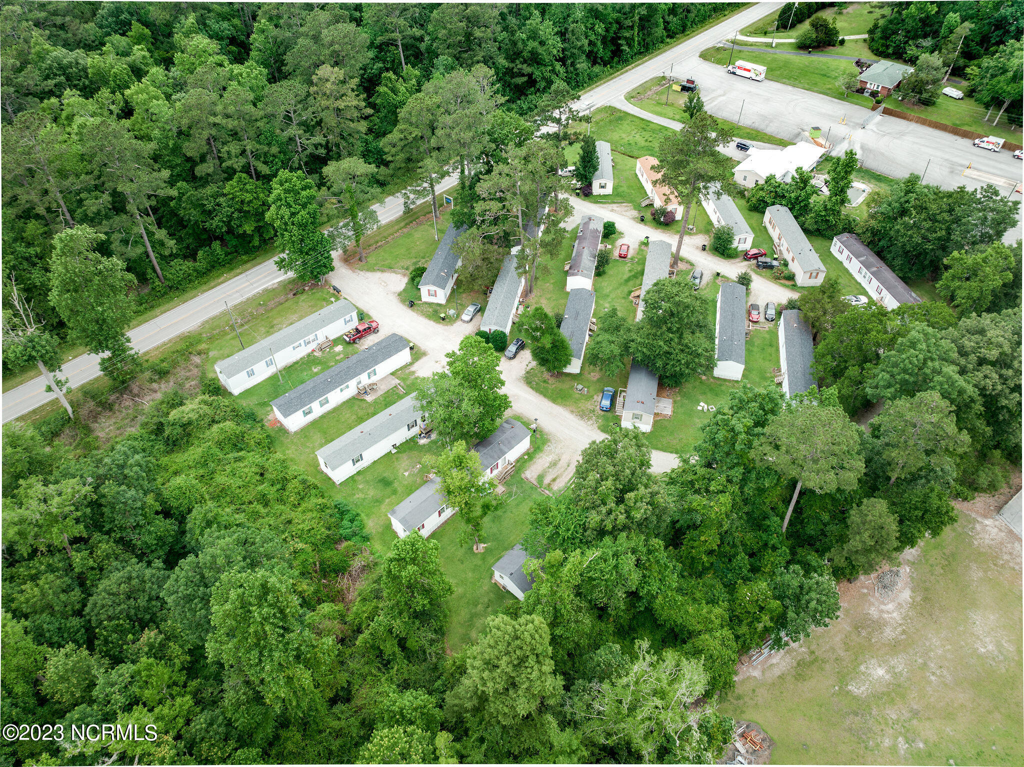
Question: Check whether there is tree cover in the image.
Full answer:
Yes, some tree cover is visible.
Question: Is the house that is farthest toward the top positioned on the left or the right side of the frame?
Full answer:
The house that is farthest toward the top is on the right side of the image.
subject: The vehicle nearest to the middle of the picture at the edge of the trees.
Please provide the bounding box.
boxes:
[505,339,524,358]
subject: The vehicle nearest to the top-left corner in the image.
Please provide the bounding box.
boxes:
[344,323,380,344]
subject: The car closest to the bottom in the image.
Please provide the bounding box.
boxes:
[601,386,616,409]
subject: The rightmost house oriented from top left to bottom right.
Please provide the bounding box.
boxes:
[830,233,920,319]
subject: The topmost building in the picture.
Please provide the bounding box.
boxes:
[857,61,912,96]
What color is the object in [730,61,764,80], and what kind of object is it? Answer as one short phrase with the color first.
white vehicle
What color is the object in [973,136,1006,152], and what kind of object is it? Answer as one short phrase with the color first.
white vehicle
